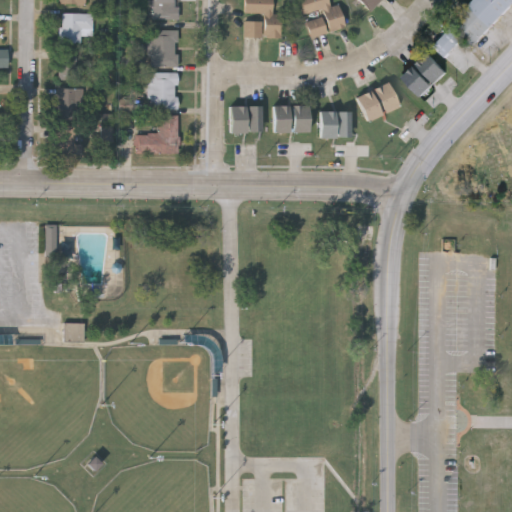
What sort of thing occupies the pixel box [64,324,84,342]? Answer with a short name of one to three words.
building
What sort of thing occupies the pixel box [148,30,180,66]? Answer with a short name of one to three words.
house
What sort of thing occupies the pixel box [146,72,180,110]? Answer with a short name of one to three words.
house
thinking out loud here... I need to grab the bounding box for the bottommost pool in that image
[58,226,125,300]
